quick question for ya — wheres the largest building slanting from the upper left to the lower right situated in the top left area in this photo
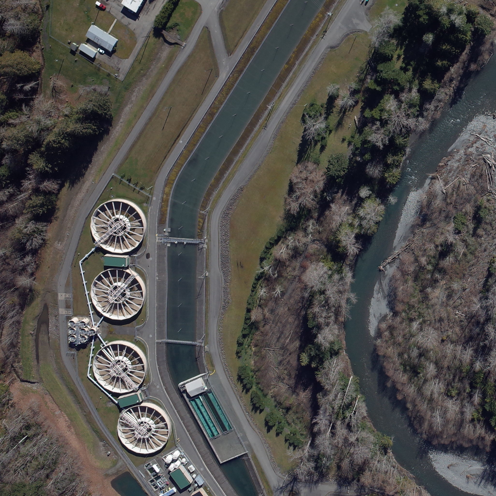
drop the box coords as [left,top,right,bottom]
[86,24,120,51]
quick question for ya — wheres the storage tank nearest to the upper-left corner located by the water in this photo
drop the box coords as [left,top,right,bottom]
[91,197,150,252]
